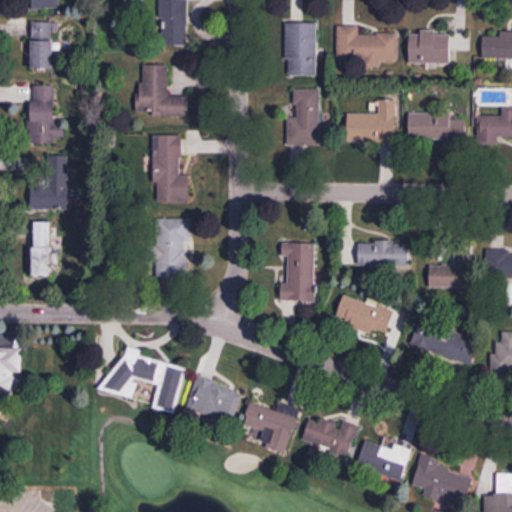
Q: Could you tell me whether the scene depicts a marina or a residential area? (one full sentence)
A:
The area seen from above is a residential area.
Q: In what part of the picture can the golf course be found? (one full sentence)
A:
You can find the golf course in the bottom area of the picture.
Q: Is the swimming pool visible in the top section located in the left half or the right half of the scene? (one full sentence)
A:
It is on the right.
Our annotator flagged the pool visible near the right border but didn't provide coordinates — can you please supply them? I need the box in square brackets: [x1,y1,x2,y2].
[473,88,512,108]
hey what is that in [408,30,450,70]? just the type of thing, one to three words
house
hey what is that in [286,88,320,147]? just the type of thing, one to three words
house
